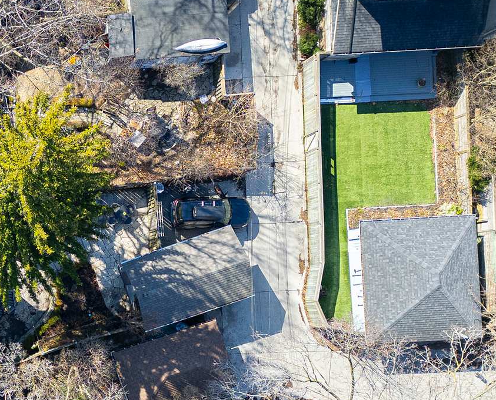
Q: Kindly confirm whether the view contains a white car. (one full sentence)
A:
No, there's no white car here.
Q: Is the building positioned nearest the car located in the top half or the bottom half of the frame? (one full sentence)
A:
It is in the bottom half that the building positioned nearest the car appears.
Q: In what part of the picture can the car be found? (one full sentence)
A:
The car is located in the center region of the scene.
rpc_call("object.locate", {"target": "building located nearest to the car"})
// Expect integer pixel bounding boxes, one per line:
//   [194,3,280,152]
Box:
[118,225,255,335]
